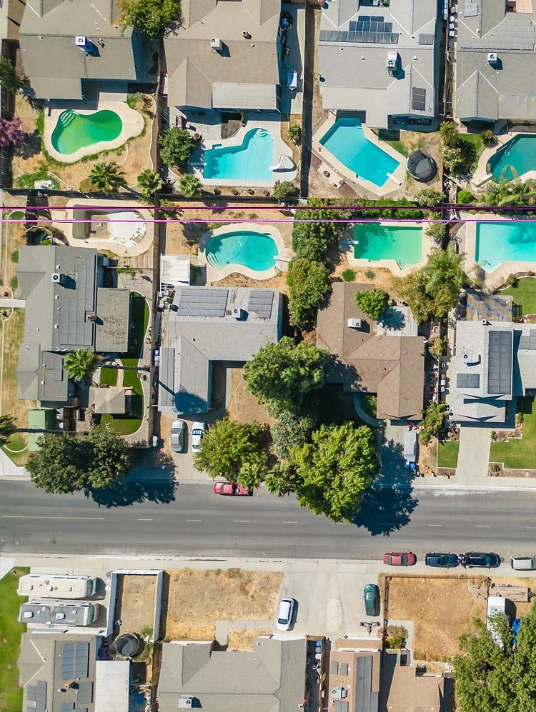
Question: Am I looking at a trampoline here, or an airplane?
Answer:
trampoline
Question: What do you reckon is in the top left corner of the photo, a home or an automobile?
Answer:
home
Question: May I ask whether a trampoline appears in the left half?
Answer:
Yes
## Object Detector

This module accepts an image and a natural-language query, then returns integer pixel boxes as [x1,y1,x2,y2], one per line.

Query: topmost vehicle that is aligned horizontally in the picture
[215,481,251,497]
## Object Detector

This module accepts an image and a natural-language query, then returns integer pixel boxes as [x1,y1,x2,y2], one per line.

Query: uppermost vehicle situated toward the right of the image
[402,429,419,463]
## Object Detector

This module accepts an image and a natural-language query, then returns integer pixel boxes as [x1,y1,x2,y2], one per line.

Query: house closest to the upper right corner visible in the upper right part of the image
[455,0,536,125]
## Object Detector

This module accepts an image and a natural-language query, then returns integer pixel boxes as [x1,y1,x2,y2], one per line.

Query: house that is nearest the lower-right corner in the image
[385,662,443,712]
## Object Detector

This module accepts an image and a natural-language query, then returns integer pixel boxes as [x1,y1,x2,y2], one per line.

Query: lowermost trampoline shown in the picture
[110,628,144,662]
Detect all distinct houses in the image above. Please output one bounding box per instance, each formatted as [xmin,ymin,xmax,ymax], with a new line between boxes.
[13,629,137,712]
[385,662,443,712]
[328,635,383,712]
[12,244,137,402]
[162,0,284,114]
[314,0,436,133]
[20,0,143,105]
[317,281,428,421]
[159,285,285,414]
[448,318,536,424]
[151,632,311,712]
[455,0,536,125]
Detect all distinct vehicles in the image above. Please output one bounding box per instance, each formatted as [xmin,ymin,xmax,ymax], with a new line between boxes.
[192,421,206,454]
[18,599,102,625]
[362,582,379,617]
[510,554,536,570]
[463,552,499,569]
[171,420,187,452]
[15,574,99,600]
[425,551,460,569]
[383,551,417,566]
[215,481,251,497]
[402,429,419,463]
[276,597,295,631]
